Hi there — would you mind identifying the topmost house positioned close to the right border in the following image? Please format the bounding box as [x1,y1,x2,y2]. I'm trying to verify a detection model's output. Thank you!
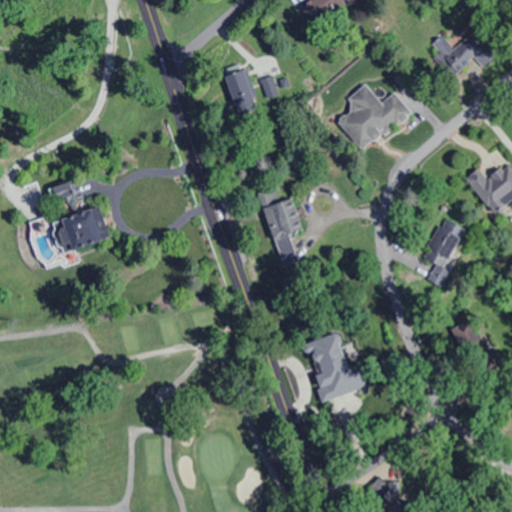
[432,36,491,75]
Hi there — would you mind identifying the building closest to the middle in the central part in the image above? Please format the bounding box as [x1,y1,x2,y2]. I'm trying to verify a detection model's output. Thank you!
[258,192,302,238]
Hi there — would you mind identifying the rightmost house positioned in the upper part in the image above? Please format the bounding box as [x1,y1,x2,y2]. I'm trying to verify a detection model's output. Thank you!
[464,165,512,212]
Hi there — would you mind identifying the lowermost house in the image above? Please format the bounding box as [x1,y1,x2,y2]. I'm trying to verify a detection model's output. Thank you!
[370,477,404,512]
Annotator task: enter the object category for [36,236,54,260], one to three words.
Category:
swimming pool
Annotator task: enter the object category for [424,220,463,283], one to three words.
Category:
house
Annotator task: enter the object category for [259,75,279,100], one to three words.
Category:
building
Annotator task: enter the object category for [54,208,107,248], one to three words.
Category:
house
